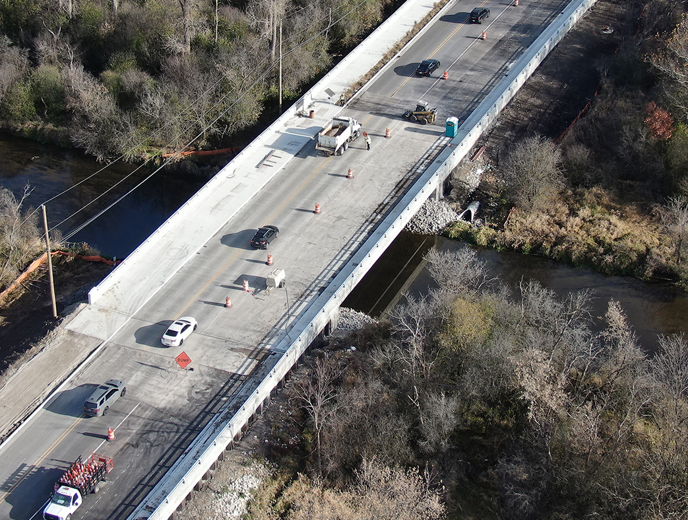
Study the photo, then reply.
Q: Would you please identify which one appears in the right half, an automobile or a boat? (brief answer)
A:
automobile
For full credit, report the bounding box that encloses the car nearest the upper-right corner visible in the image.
[466,5,491,24]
